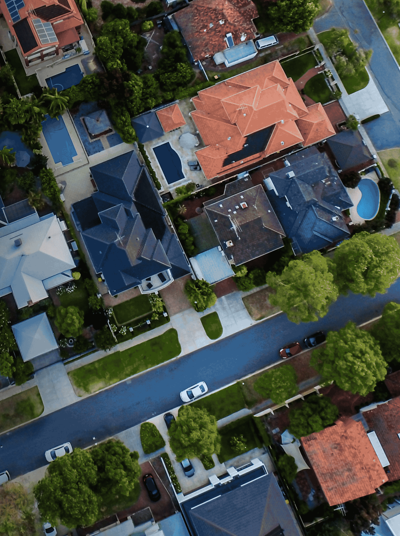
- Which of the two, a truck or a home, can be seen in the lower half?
home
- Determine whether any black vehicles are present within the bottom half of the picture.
Yes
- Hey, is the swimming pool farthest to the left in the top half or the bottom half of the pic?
top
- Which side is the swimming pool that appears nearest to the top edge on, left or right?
left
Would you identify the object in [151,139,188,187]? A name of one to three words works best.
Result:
swimming pool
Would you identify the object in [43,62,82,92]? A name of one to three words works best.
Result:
swimming pool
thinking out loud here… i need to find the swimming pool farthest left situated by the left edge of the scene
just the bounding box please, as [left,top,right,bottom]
[0,129,34,164]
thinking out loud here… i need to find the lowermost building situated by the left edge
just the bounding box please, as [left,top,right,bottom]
[12,313,58,362]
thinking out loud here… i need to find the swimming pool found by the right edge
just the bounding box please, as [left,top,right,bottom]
[349,176,381,222]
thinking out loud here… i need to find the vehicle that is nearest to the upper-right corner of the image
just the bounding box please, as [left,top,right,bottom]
[253,34,280,51]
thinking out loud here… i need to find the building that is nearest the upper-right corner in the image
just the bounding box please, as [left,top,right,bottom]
[325,124,375,170]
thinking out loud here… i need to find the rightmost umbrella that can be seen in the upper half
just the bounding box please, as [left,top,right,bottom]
[176,130,201,154]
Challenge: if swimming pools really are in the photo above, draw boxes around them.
[151,139,188,187]
[37,116,80,169]
[0,129,34,164]
[43,62,82,92]
[349,176,381,222]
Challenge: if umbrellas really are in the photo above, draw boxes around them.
[13,149,33,168]
[176,130,201,154]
